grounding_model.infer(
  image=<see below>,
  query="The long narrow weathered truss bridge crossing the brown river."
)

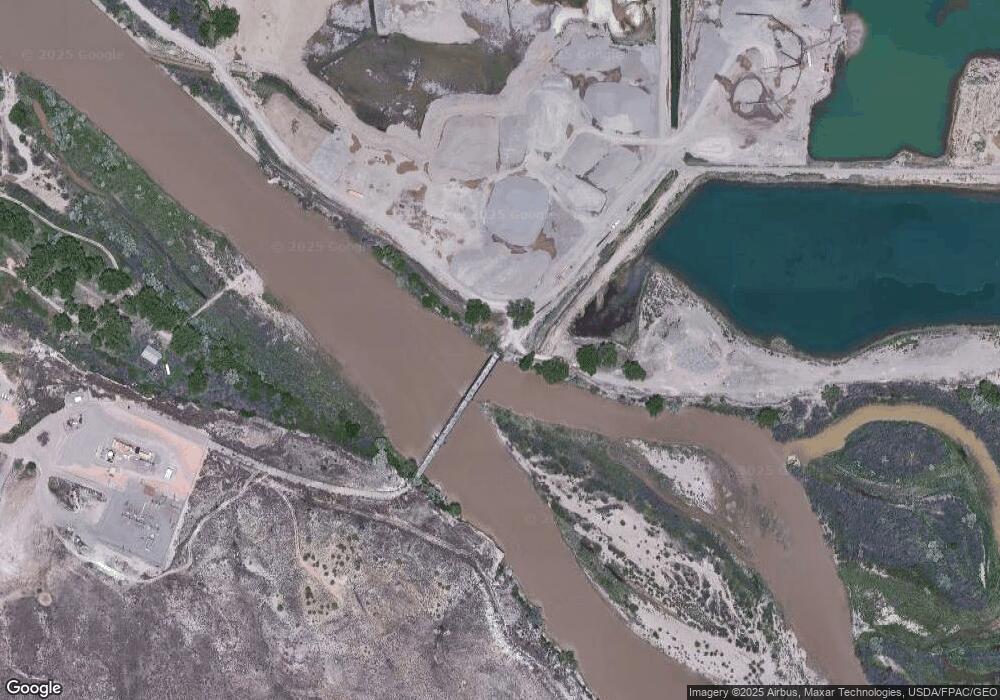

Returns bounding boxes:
[412,350,503,484]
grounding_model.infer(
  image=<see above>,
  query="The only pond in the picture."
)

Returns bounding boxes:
[572,260,648,337]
